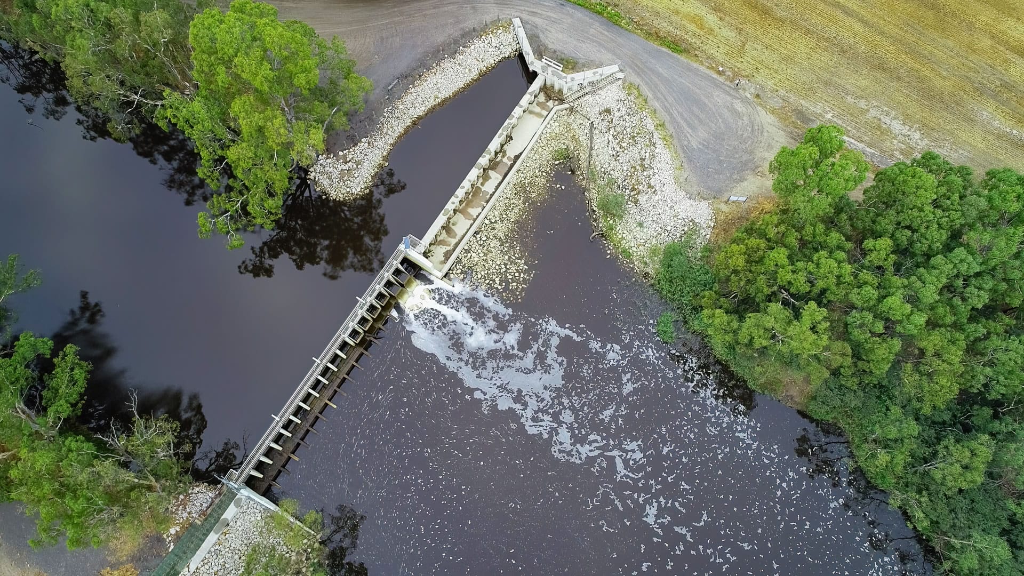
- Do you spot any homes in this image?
No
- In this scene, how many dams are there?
2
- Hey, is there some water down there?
Yes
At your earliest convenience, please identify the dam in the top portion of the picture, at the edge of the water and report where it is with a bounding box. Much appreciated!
[421,78,573,274]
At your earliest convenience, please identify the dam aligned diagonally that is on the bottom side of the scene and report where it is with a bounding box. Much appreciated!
[236,259,427,493]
